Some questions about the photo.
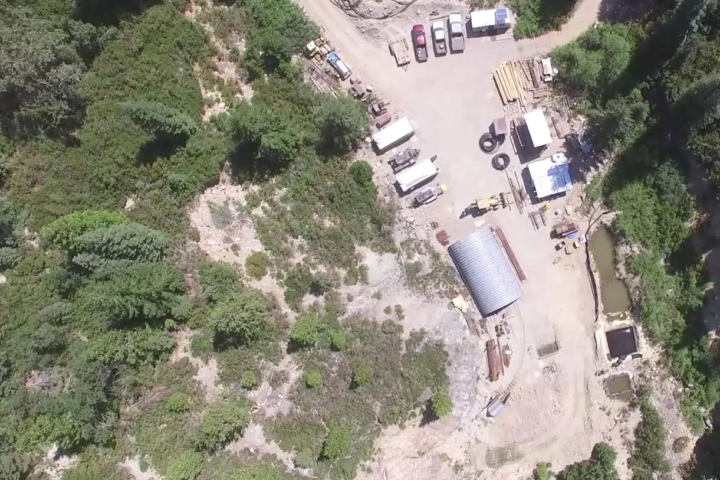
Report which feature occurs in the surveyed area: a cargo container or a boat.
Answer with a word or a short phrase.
cargo container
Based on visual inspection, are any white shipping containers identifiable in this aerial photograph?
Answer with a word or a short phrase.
Yes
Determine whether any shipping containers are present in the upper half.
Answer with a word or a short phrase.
Yes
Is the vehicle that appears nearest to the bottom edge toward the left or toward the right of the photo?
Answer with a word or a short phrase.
right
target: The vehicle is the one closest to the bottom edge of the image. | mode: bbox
[552,218,578,238]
